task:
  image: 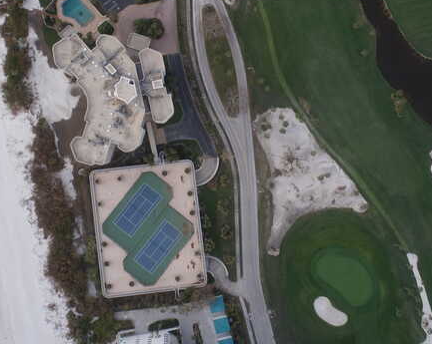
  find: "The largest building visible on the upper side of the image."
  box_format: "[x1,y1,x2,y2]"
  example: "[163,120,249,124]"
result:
[53,33,148,164]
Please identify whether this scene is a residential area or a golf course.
golf course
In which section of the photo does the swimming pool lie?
top left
